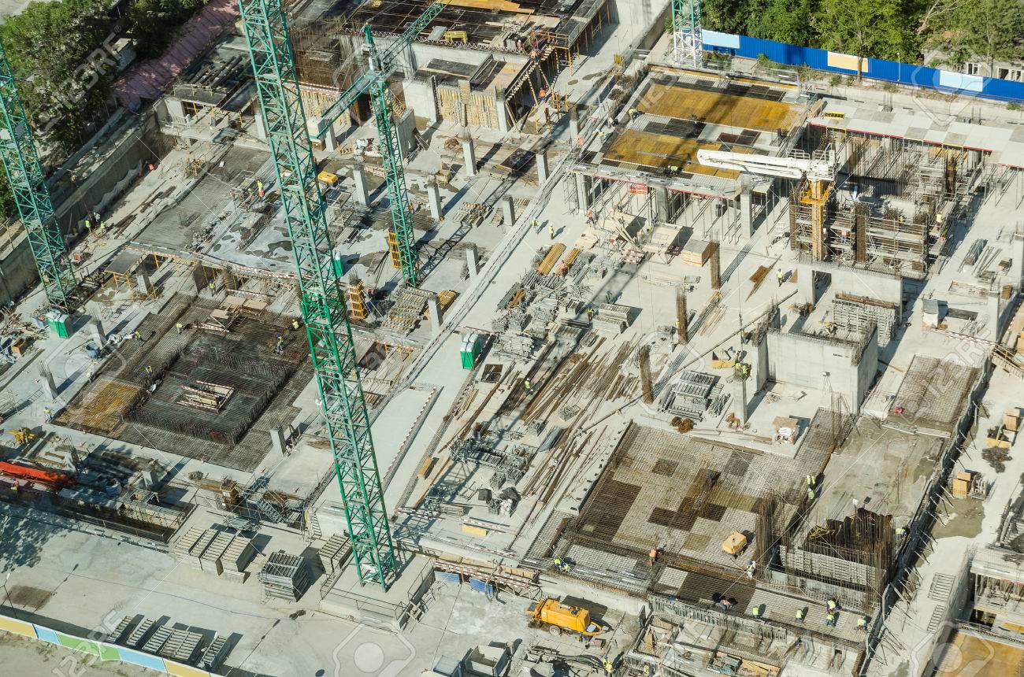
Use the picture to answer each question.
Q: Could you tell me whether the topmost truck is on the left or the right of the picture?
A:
left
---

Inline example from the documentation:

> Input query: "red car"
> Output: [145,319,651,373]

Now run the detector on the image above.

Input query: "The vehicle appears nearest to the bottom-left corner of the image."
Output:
[0,457,73,502]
